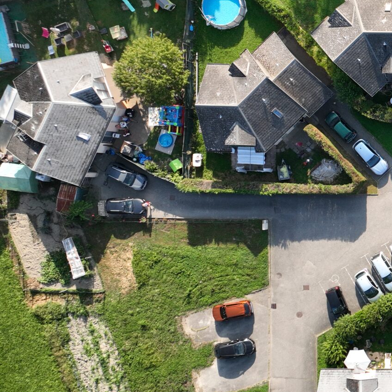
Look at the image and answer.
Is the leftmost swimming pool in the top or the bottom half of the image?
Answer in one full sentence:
The leftmost swimming pool sits in the top half of the picture.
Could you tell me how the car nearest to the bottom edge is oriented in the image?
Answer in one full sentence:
The car nearest to the bottom edge is oriented from side to side.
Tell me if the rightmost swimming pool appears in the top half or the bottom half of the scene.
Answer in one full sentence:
The rightmost swimming pool sits in the top half of the picture.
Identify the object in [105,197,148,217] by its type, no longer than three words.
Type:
car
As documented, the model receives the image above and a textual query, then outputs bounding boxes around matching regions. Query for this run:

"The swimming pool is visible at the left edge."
[0,10,29,72]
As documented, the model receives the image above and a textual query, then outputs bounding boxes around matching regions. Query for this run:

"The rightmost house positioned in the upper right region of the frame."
[310,0,392,98]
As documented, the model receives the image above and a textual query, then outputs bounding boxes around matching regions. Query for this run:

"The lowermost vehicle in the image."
[214,338,257,360]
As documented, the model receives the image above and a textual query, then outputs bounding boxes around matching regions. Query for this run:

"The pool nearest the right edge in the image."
[201,0,250,30]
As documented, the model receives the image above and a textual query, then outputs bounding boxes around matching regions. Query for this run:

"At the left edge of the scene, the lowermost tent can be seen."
[0,162,49,193]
